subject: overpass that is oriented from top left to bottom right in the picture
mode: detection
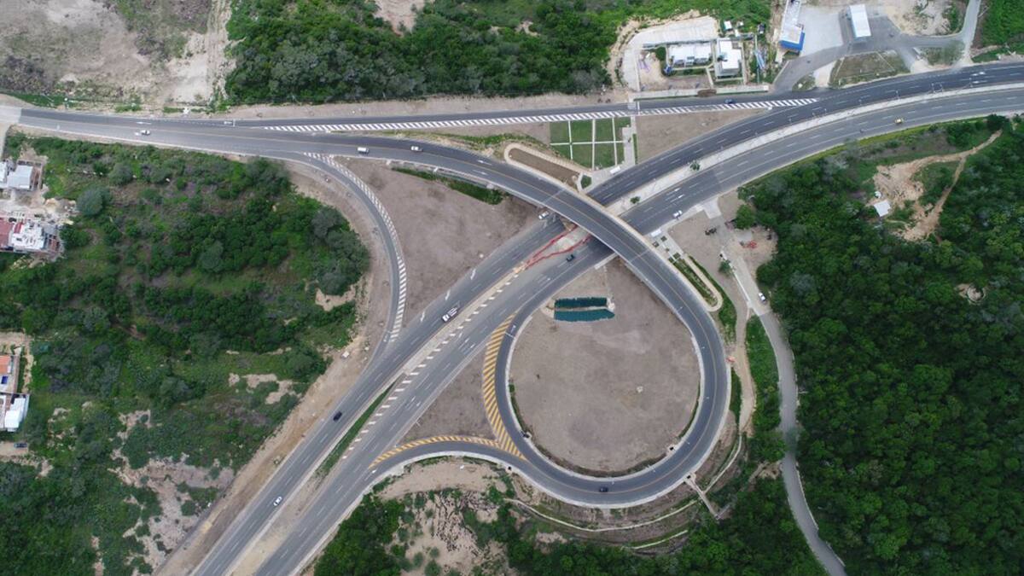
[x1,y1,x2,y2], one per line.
[546,186,650,269]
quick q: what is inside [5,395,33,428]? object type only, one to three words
house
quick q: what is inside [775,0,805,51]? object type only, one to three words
building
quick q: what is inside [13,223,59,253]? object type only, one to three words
house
